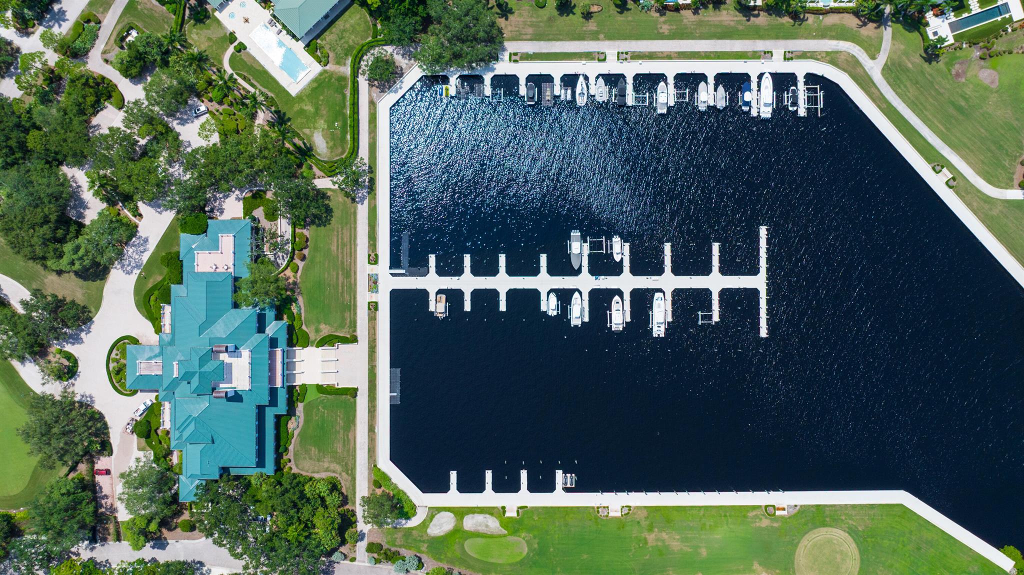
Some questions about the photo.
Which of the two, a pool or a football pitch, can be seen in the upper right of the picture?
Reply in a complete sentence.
What appears in the upper right of the picture is a pool.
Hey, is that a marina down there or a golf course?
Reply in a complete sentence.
The picture captures a marina.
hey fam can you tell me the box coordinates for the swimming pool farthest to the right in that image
[949,1,1012,34]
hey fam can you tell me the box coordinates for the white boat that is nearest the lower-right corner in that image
[653,293,665,337]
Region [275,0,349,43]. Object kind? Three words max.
building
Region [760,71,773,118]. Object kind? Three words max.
boat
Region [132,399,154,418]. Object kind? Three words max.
vehicle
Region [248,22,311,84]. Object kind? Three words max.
swimming pool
